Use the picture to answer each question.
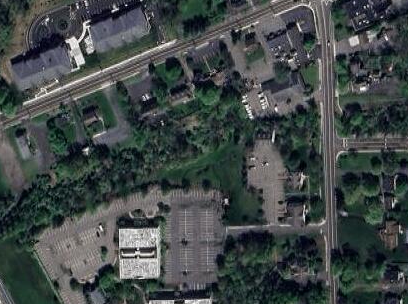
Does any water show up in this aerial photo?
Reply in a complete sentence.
No, no water is visible.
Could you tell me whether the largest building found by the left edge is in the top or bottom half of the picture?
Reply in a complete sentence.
Seen from above, the largest building found by the left edge lies in the top half of the view.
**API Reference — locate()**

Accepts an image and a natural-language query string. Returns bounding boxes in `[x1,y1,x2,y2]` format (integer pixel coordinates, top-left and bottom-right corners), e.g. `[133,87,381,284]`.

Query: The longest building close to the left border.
[10,45,72,90]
